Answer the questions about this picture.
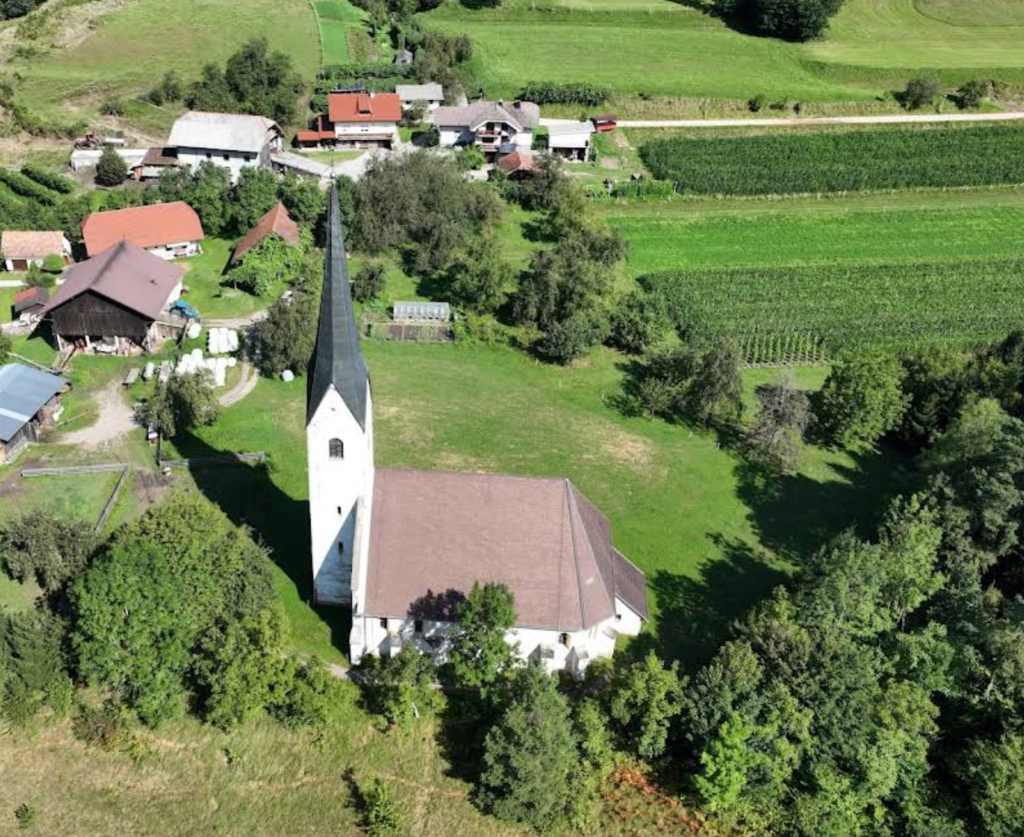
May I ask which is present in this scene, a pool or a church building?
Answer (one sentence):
It is a church building that can be seen here.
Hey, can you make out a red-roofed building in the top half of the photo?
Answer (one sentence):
Yes, there is a red-roofed building in the top half of the photo.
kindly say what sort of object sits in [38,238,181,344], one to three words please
barn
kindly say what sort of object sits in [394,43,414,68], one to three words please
shed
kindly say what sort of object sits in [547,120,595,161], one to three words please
building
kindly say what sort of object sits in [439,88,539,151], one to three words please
house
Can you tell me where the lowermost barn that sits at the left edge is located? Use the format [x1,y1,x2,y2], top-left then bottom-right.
[0,356,67,461]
